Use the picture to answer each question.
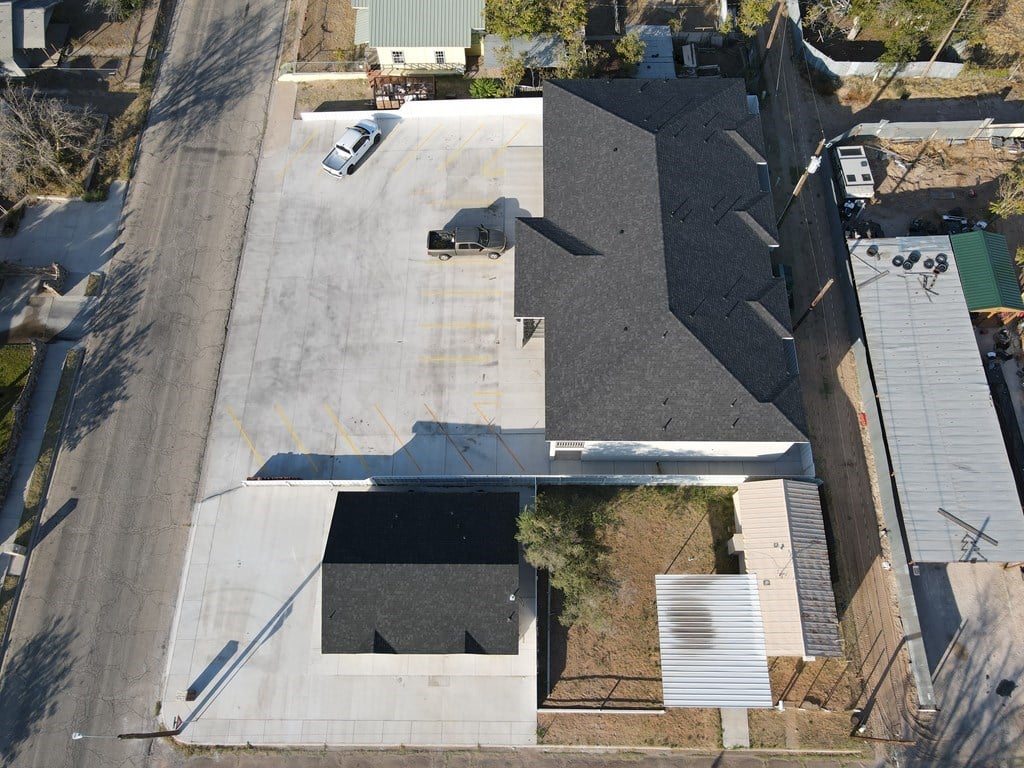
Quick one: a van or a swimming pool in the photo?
van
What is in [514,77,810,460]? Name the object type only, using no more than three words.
building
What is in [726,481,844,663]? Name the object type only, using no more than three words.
house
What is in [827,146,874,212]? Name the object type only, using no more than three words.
van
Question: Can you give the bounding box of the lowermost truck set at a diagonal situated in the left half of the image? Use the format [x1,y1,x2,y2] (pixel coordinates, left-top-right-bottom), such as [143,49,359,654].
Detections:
[318,120,383,185]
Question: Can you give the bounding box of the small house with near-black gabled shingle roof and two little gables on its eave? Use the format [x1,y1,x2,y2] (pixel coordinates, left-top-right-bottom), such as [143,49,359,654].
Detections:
[322,492,520,655]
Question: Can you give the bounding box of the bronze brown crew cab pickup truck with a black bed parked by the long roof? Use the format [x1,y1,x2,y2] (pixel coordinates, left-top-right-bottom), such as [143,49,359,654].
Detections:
[425,225,507,261]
